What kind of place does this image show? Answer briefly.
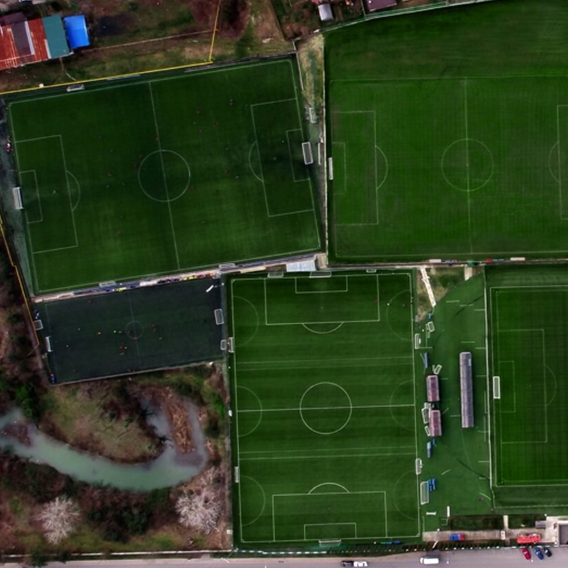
sports ground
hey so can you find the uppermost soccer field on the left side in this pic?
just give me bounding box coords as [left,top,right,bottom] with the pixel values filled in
[2,53,322,297]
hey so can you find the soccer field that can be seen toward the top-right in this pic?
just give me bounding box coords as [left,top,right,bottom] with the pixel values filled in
[324,0,568,264]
